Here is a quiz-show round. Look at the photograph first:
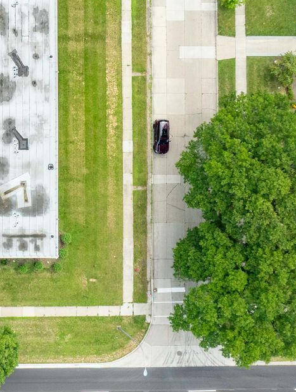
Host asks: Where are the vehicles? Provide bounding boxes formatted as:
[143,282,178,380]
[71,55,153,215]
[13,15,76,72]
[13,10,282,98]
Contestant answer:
[152,120,169,154]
